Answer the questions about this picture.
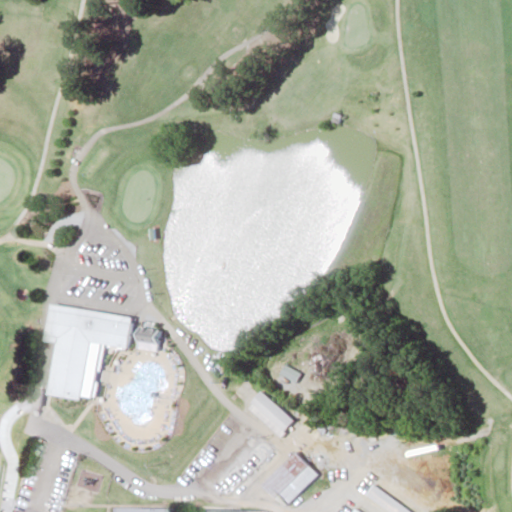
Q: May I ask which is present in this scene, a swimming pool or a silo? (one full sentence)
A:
Looking from above, you can make out a swimming pool.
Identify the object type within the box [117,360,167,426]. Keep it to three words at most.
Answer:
swimming pool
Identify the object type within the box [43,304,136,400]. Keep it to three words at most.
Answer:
building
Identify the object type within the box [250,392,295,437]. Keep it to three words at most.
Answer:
barn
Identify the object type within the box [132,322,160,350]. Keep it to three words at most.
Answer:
building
